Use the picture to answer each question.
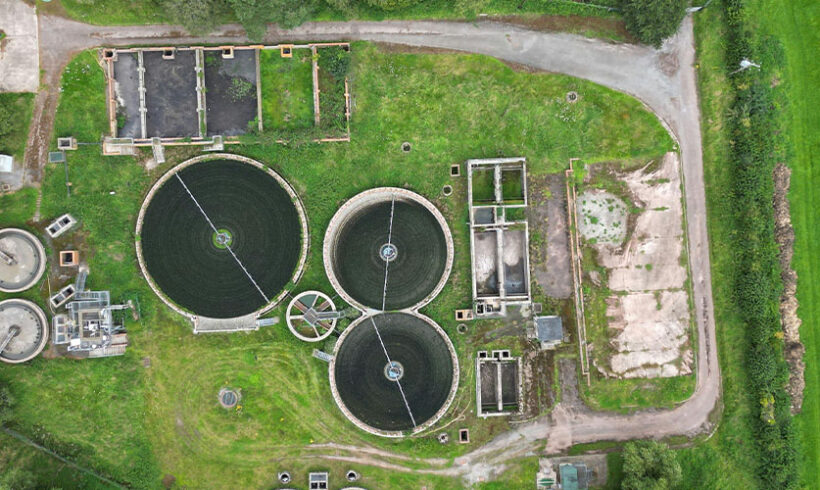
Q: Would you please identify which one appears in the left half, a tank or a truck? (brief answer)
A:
tank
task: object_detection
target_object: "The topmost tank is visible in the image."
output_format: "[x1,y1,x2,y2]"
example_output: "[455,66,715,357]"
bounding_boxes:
[0,228,51,293]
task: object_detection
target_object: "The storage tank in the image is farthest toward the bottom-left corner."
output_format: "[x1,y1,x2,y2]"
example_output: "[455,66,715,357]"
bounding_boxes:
[0,297,53,363]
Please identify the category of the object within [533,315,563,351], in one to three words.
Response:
shed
